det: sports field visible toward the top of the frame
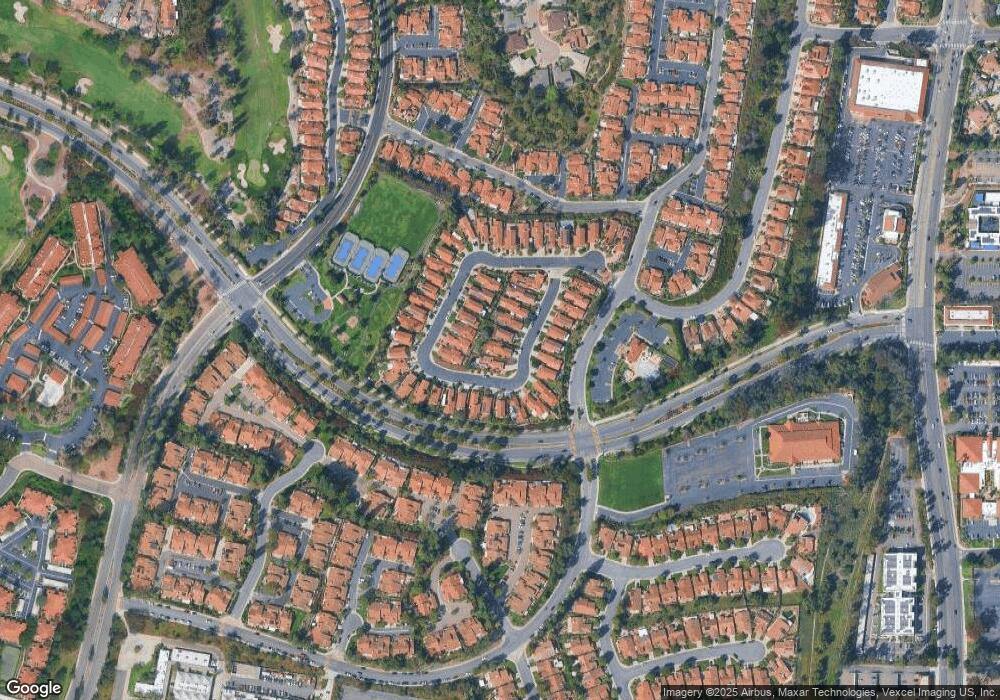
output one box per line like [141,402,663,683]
[348,173,438,255]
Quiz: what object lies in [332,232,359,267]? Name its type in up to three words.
tennis court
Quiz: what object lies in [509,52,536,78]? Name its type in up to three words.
house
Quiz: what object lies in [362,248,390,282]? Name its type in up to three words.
tennis court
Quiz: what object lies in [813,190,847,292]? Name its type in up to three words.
building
